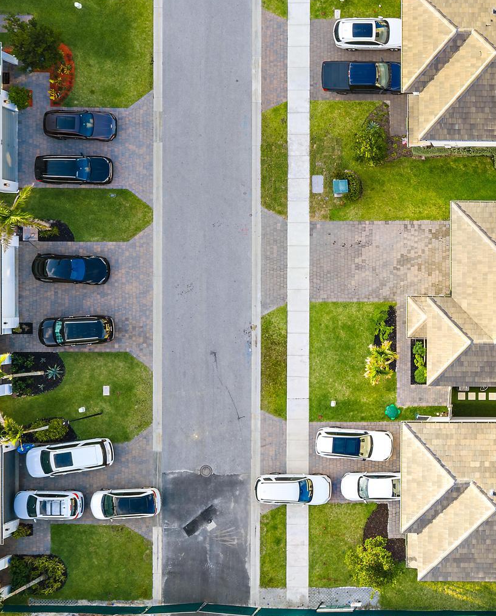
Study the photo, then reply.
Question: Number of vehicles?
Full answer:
The picture shows 12 vehicles.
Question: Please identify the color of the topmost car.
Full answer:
The topmost car looks white in the image.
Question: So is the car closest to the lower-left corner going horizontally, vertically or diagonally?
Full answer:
In this picture, the car closest to the lower-left corner lies horizontally.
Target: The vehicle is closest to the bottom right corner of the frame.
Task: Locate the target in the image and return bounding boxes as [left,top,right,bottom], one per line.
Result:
[341,470,399,506]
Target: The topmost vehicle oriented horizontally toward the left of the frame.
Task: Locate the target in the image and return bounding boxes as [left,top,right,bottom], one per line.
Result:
[43,107,122,142]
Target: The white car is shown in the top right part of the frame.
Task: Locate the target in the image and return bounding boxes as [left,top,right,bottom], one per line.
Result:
[333,14,399,52]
